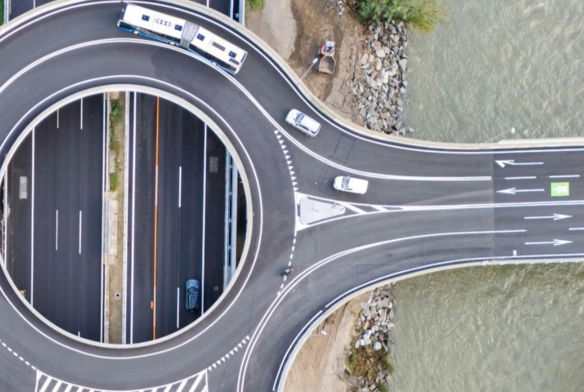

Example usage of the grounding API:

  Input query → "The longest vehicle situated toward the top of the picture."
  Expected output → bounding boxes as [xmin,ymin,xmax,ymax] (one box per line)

[120,3,246,75]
